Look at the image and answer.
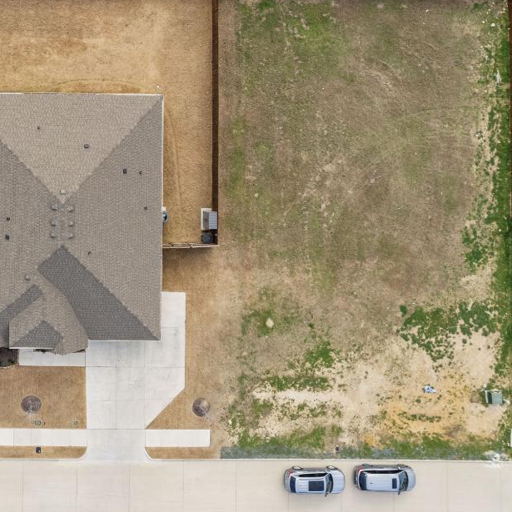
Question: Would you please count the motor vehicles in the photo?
2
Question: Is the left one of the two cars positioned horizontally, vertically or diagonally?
horizontally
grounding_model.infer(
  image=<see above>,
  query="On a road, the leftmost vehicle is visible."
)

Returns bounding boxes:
[284,466,343,496]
